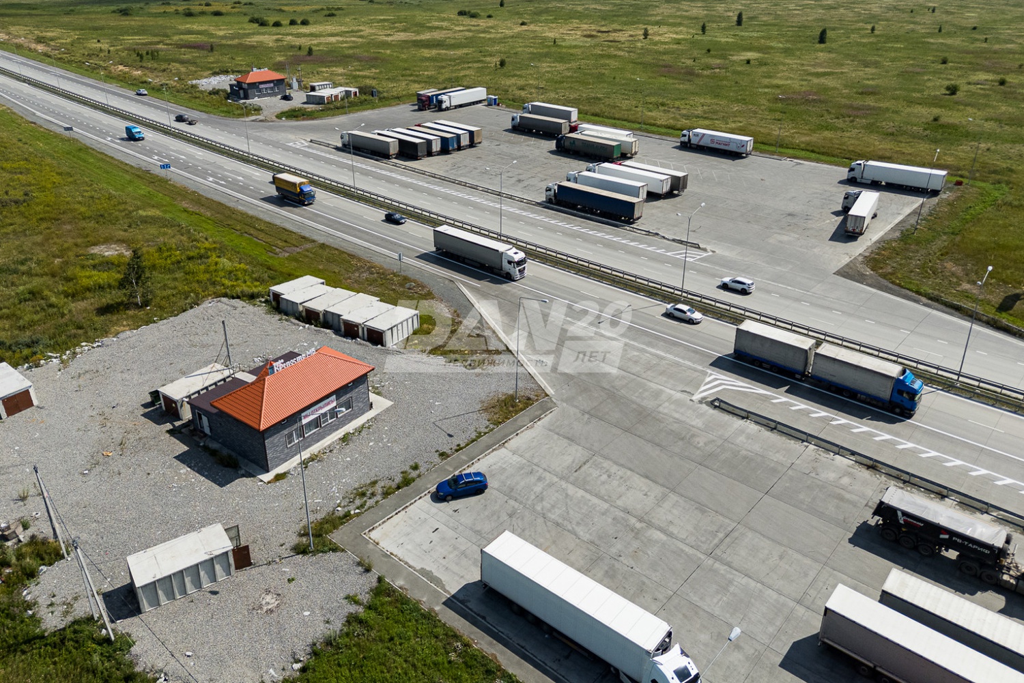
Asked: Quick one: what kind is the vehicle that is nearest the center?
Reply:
truck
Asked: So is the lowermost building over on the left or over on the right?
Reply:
left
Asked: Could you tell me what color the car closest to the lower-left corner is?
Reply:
blue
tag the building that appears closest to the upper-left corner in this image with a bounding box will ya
[223,64,297,101]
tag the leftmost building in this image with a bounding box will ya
[0,367,41,422]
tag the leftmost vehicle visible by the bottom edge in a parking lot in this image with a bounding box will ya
[482,531,711,683]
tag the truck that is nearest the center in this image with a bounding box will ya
[433,224,532,283]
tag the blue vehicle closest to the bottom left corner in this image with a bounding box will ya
[440,469,498,501]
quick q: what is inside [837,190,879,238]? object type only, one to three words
truck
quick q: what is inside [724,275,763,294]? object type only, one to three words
car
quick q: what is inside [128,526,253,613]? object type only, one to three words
building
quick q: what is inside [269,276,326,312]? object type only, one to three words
building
